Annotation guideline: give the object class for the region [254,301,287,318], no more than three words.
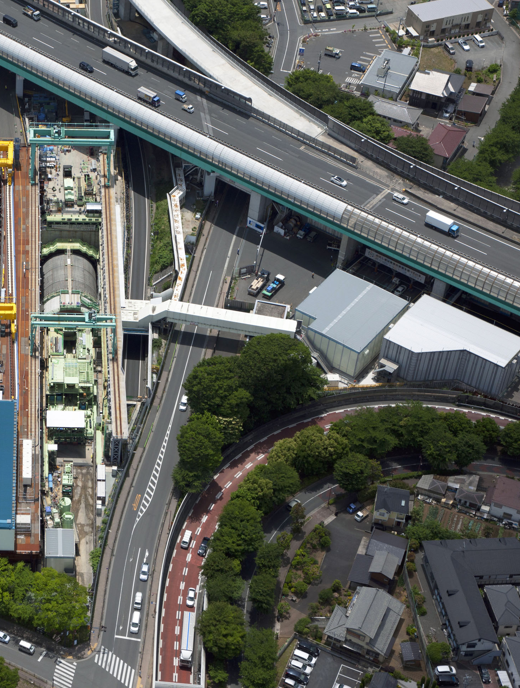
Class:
building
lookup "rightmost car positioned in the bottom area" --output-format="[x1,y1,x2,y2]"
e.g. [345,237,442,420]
[477,666,492,686]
